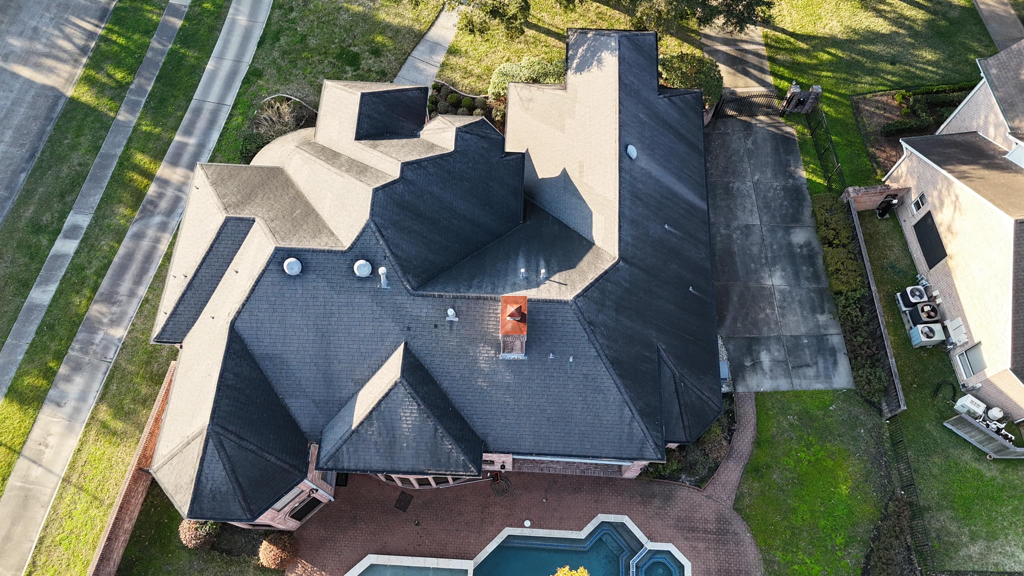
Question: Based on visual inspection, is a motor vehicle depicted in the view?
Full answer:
No, this view has no motor vehicle in it.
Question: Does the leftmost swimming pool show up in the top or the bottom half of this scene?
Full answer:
It is in the bottom half that the leftmost swimming pool appears.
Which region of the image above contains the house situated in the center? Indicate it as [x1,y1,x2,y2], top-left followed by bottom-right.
[146,26,725,531]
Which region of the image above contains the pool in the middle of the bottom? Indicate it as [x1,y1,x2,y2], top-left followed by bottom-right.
[345,514,691,576]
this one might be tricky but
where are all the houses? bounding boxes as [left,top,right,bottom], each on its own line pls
[146,26,725,531]
[881,52,1024,429]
